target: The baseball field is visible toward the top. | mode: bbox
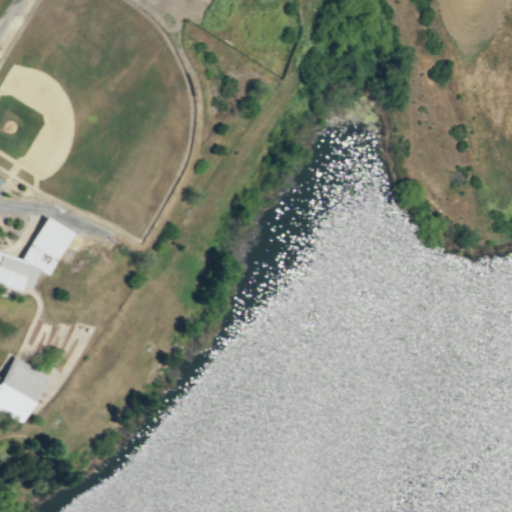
[0,0,194,242]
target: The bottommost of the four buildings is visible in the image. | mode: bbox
[0,356,50,424]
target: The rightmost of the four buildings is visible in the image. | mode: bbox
[32,217,76,261]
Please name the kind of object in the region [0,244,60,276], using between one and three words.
building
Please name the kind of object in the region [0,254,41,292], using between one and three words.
building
